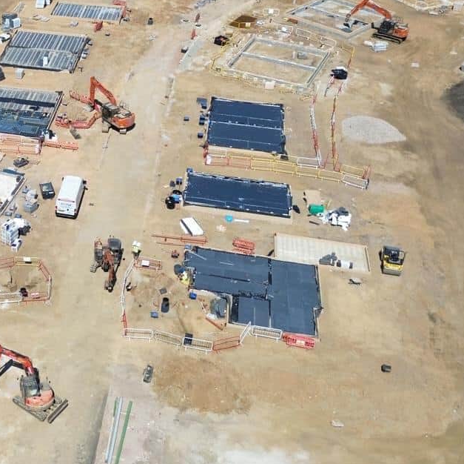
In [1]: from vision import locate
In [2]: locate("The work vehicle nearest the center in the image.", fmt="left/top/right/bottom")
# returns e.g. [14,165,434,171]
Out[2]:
[93,243,125,292]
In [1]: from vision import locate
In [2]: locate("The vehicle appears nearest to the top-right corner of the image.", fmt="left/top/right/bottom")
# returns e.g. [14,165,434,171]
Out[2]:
[339,0,411,46]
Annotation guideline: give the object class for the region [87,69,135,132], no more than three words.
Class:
work vehicle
